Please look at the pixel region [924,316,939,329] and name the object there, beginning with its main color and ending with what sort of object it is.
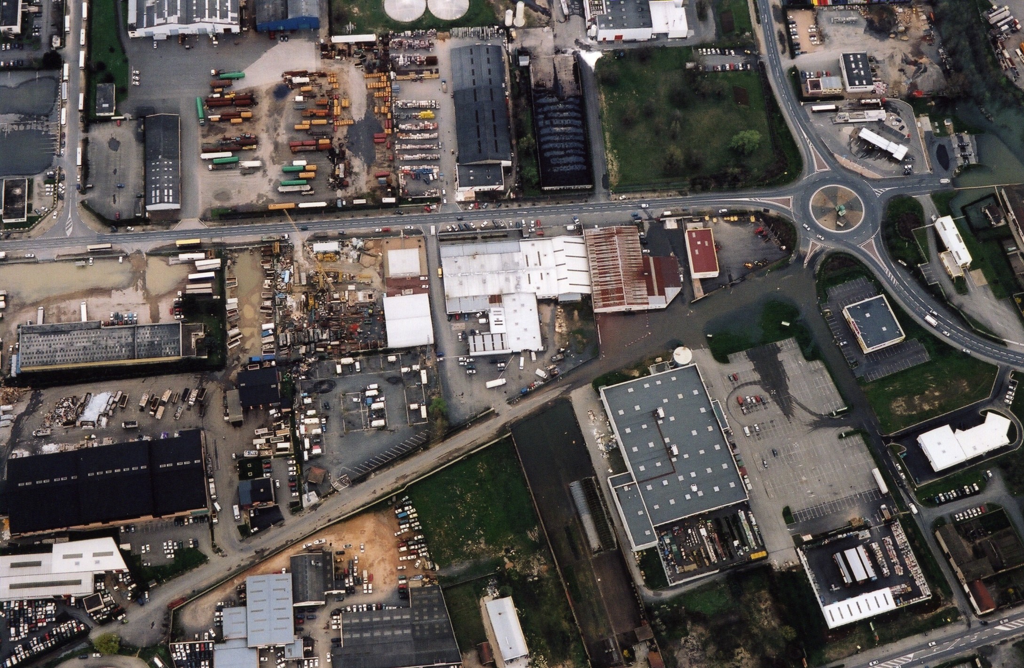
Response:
white vehicle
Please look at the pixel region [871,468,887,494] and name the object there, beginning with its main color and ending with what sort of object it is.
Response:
white vehicle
